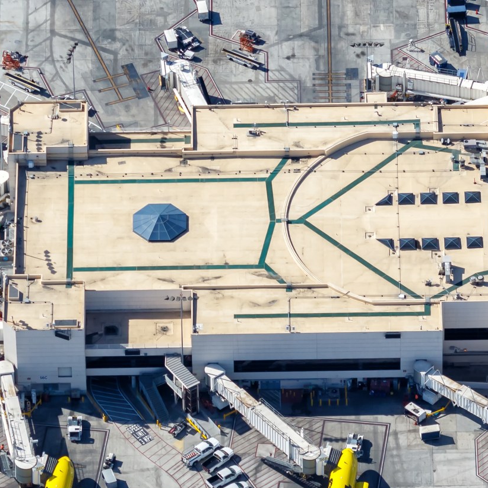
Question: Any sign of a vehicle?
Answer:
Yes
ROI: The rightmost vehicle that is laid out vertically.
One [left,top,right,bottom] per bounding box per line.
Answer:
[448,14,460,52]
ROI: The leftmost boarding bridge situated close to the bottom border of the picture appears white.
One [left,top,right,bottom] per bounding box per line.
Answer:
[0,363,58,485]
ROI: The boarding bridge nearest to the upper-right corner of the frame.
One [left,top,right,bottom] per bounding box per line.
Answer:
[369,65,488,105]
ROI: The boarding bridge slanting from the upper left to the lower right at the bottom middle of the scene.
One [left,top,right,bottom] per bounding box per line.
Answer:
[207,364,339,481]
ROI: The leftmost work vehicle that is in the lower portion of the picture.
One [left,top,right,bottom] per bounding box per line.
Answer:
[66,413,84,446]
